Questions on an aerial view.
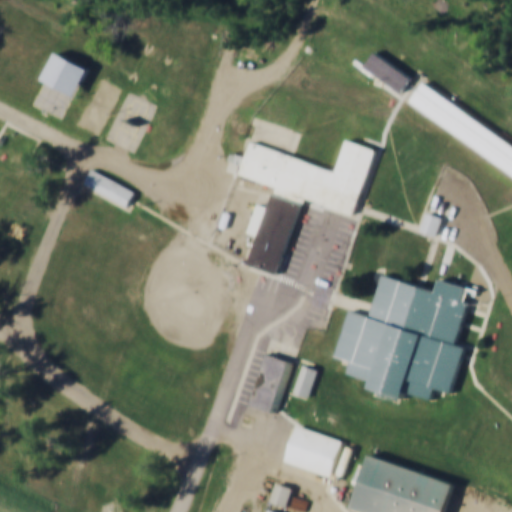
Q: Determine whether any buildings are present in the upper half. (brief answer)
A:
Yes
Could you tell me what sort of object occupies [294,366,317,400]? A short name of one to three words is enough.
shed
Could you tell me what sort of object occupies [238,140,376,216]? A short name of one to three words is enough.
building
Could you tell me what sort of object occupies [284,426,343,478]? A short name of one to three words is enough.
shed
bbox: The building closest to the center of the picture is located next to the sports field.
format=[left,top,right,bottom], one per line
[247,195,302,273]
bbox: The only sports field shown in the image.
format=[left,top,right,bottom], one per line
[144,232,240,350]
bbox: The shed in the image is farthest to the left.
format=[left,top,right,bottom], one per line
[38,53,84,96]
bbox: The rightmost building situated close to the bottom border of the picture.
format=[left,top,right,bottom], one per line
[348,457,454,512]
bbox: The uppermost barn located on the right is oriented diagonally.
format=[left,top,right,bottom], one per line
[364,52,412,92]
